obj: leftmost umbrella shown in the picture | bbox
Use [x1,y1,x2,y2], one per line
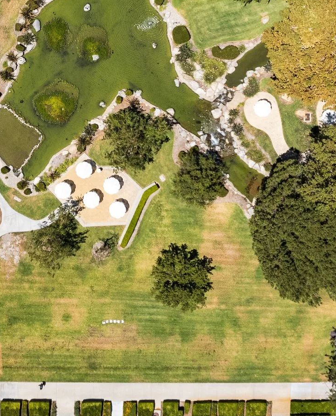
[54,182,73,200]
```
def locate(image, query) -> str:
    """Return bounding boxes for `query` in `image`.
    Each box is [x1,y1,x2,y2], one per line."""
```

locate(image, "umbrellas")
[108,200,126,219]
[253,99,272,117]
[54,182,73,200]
[74,161,92,179]
[81,191,100,209]
[101,176,121,195]
[319,107,336,125]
